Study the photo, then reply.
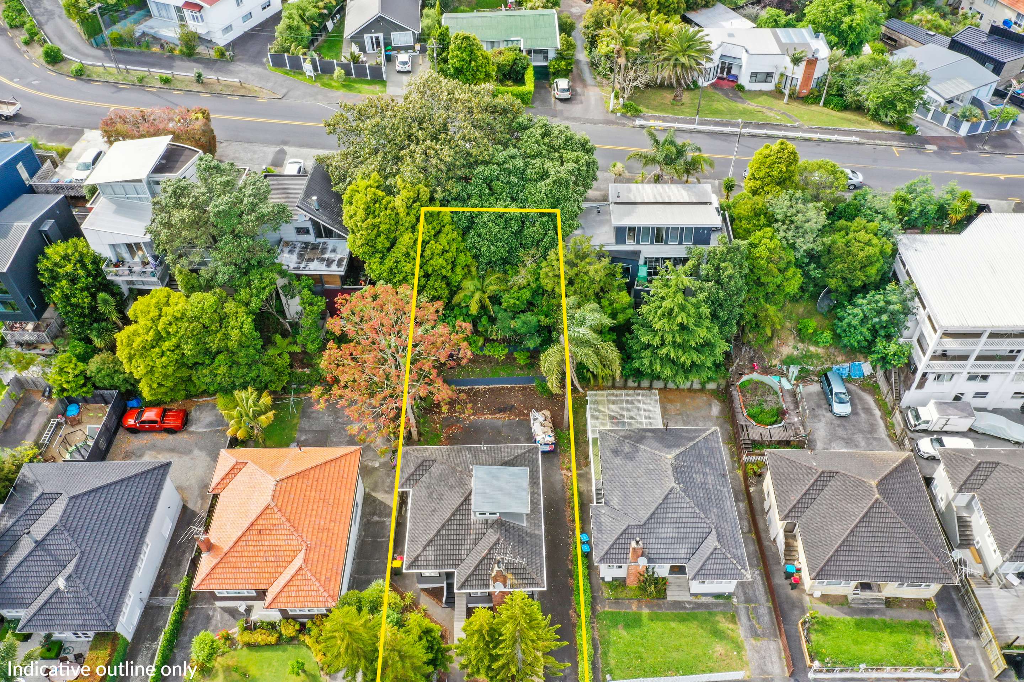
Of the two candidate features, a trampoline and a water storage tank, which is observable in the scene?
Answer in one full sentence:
The one in the frame is a trampoline.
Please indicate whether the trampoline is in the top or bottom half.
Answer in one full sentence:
The trampoline sits in the bottom half of the picture.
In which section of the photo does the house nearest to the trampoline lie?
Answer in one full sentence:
The house nearest to the trampoline is in the bottom left part of the image.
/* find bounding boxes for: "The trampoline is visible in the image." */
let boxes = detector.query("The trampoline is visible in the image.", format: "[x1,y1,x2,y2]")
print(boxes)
[50,428,96,461]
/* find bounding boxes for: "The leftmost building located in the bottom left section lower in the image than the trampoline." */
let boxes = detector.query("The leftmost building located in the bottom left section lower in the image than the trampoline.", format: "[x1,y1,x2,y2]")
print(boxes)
[0,461,182,652]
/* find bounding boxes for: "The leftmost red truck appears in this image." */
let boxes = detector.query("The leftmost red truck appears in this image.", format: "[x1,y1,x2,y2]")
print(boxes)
[119,403,194,433]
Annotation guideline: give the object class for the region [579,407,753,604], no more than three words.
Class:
house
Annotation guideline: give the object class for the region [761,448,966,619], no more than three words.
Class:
house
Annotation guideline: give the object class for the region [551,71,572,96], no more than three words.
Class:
car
